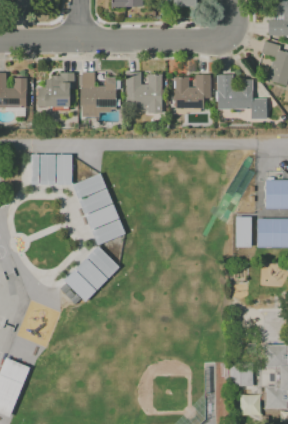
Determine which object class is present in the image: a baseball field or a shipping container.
baseball field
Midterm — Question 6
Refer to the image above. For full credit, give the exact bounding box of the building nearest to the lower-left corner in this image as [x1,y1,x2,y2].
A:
[0,357,28,418]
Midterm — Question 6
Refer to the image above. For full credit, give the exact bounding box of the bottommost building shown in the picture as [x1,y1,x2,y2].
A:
[240,396,260,416]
